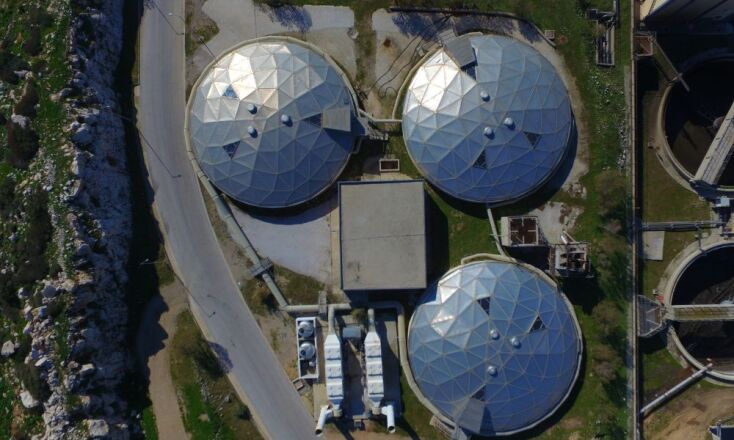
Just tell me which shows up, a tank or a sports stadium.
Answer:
tank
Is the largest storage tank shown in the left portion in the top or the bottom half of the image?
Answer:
top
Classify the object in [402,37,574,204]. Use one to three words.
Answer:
storage tank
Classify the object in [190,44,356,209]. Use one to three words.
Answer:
storage tank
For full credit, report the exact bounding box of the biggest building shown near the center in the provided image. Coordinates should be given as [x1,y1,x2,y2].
[340,181,426,292]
